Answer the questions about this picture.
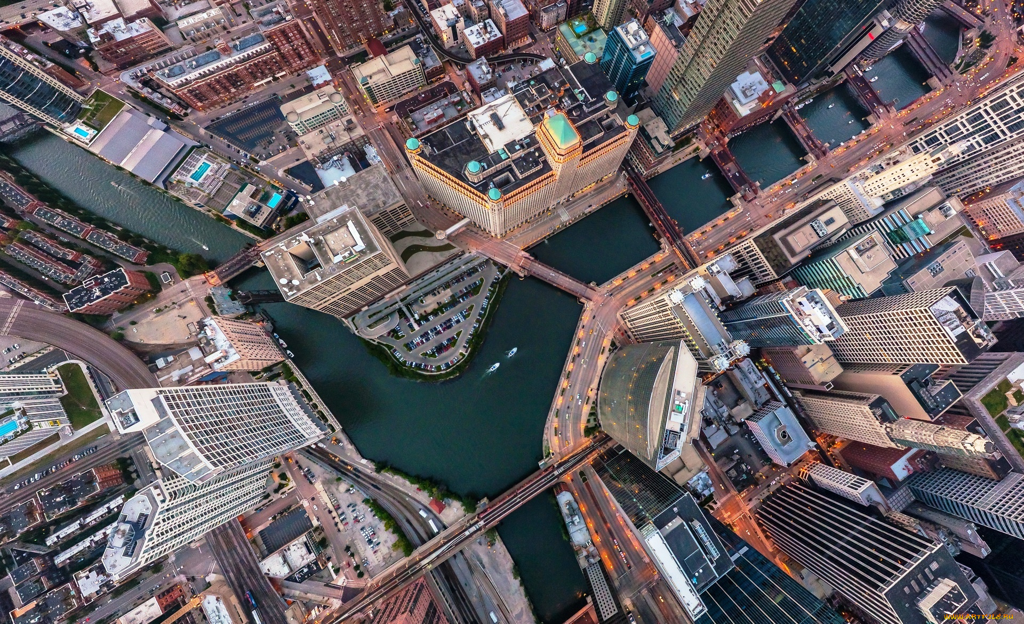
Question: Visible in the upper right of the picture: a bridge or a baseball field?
bridge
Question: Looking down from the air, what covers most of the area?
buildings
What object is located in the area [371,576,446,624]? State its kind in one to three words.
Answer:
building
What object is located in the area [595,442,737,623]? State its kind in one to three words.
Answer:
building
